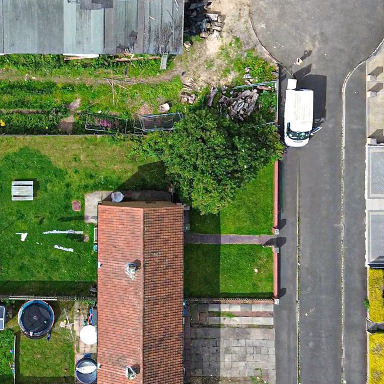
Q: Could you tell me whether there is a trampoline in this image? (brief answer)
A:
Yes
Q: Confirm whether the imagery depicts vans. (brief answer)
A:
Yes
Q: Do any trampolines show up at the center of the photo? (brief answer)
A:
No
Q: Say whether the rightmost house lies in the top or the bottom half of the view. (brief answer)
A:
bottom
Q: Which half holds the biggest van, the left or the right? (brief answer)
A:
right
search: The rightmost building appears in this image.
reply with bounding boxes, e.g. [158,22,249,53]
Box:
[95,198,184,384]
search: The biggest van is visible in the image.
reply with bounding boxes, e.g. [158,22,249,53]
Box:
[284,89,322,147]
